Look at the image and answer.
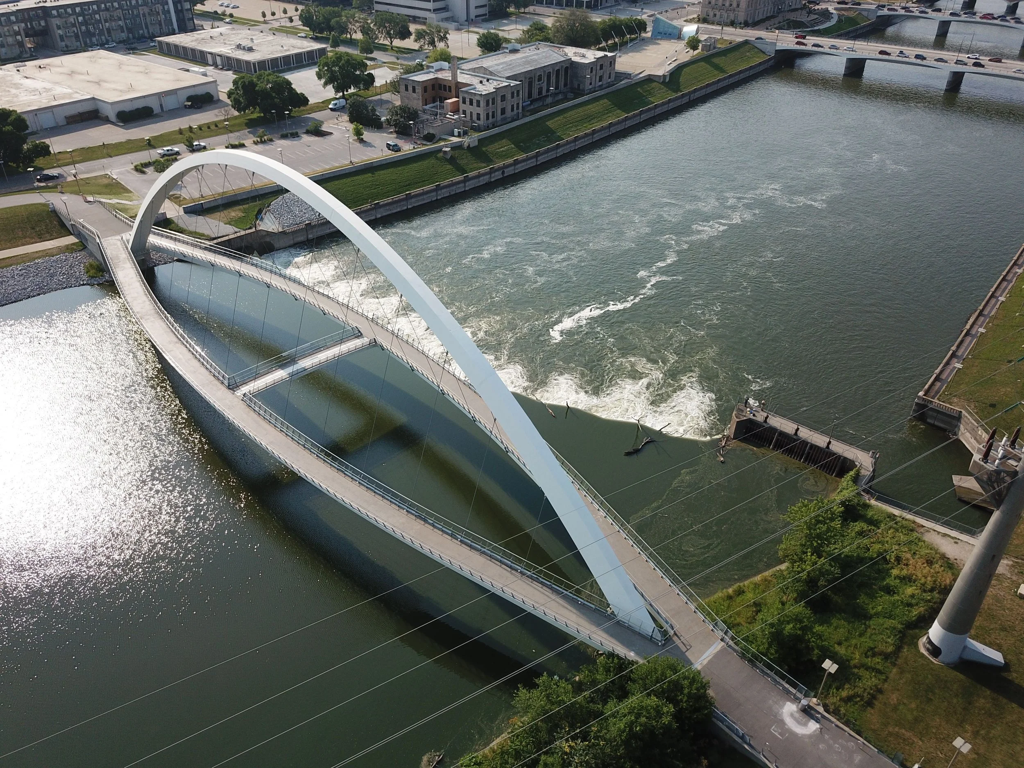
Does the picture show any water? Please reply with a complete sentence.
Yes, some water is visible.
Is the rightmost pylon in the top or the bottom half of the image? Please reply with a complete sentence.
Seen from above, the rightmost pylon lies in the bottom half of the view.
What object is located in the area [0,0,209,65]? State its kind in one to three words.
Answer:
building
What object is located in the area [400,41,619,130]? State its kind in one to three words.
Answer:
building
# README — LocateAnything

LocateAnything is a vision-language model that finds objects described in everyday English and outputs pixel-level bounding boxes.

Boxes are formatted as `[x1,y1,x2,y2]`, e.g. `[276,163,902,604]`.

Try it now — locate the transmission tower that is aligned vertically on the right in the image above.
[910,436,1024,684]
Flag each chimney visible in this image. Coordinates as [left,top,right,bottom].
[445,57,458,97]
